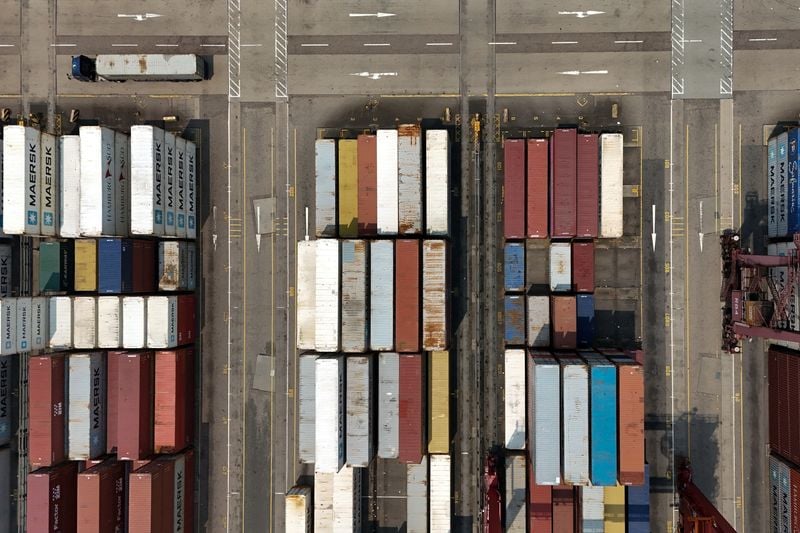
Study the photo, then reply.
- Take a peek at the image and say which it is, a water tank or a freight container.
freight container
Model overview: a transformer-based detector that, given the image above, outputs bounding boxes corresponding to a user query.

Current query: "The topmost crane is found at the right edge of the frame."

[720,234,800,352]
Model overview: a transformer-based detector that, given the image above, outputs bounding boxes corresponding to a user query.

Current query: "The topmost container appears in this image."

[97,54,204,81]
